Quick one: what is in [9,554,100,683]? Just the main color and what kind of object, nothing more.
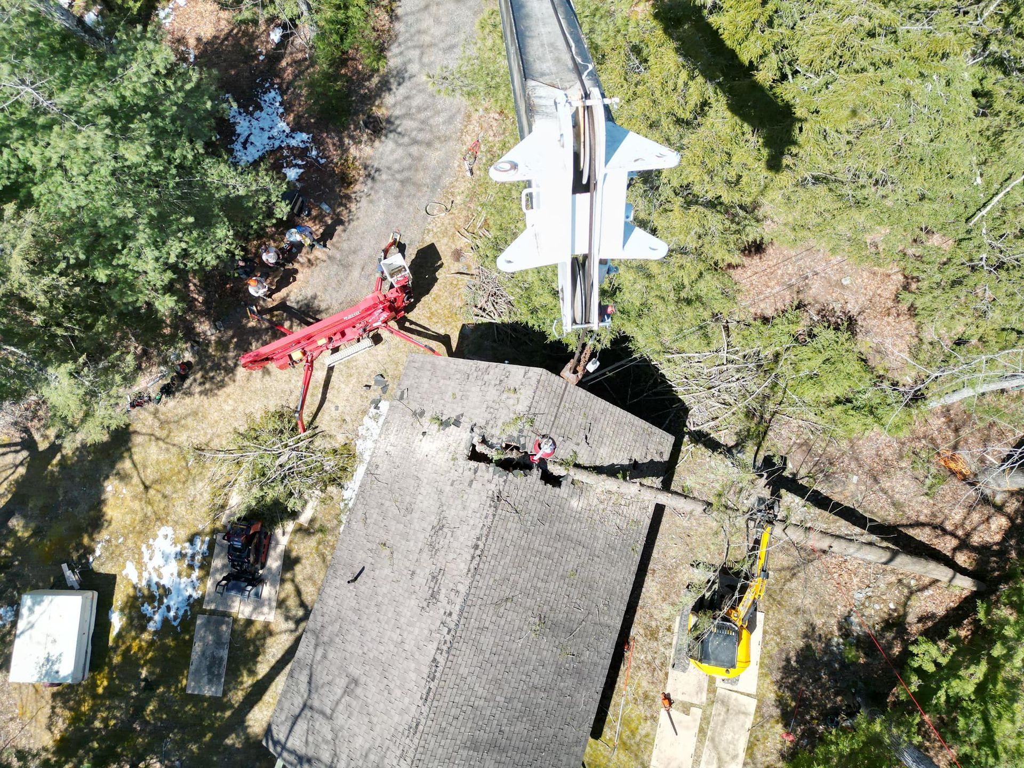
white trailer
